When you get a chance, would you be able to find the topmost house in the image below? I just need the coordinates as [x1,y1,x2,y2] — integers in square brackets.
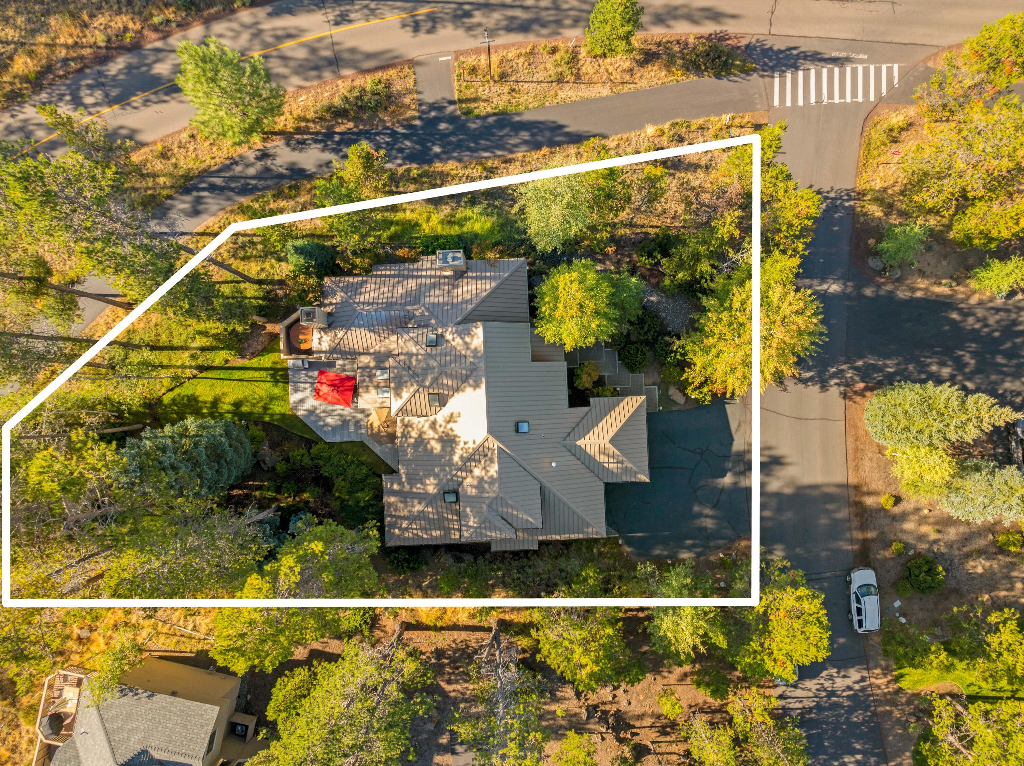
[299,249,652,553]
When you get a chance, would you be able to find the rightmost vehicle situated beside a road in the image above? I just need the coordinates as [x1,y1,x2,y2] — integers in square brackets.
[848,567,884,636]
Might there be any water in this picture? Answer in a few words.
No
